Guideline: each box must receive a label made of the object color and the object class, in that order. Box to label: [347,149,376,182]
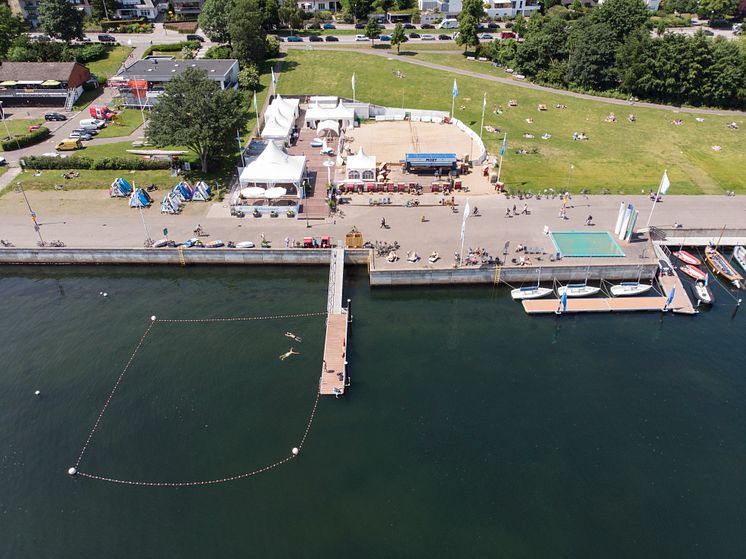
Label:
white tent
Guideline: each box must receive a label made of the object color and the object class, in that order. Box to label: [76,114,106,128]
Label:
white vehicle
